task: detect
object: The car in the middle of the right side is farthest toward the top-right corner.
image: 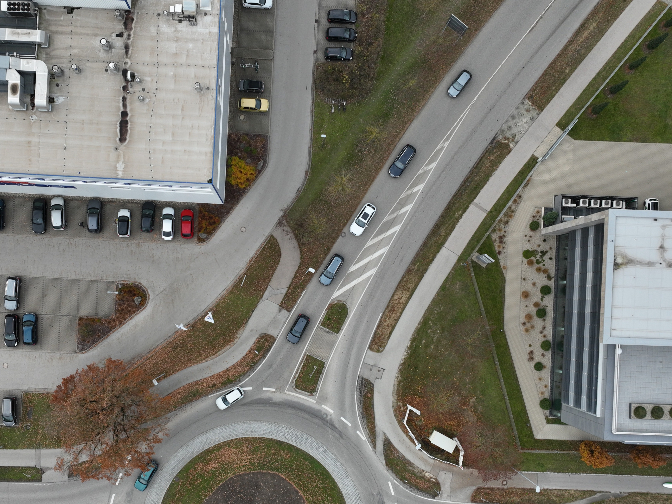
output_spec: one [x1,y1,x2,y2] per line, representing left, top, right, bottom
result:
[643,198,660,211]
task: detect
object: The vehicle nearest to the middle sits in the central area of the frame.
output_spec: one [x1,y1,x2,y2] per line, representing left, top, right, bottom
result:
[320,253,344,286]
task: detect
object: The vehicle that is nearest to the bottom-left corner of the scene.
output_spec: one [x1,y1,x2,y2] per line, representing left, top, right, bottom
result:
[1,396,19,426]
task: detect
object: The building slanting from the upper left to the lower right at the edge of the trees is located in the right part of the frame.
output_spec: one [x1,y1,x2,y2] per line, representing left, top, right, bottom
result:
[427,428,457,453]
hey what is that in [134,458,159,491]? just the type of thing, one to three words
car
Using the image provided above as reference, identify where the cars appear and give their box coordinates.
[134,458,159,491]
[86,201,103,233]
[447,69,473,100]
[390,143,415,179]
[116,210,131,237]
[326,26,357,43]
[179,209,195,239]
[239,78,265,94]
[140,202,155,232]
[643,198,660,211]
[287,313,310,344]
[243,0,273,9]
[49,198,66,231]
[327,7,357,25]
[351,202,376,237]
[320,253,344,286]
[21,314,38,344]
[1,396,19,426]
[31,200,48,233]
[0,200,5,229]
[216,386,244,409]
[324,45,353,62]
[3,314,20,347]
[238,96,269,113]
[160,207,176,240]
[4,277,21,310]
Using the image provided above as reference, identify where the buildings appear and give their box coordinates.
[541,207,672,446]
[427,428,457,453]
[0,0,233,204]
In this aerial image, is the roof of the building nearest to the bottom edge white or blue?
white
